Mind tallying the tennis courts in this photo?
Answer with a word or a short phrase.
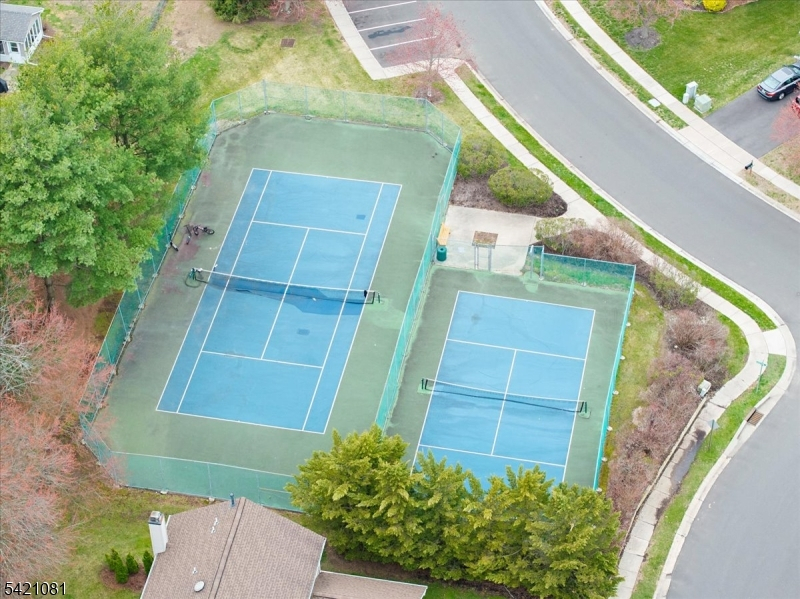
2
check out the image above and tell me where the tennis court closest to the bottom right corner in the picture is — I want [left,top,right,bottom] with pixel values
[380,265,632,543]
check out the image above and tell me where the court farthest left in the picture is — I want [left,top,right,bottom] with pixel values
[81,112,455,512]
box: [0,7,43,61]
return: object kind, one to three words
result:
house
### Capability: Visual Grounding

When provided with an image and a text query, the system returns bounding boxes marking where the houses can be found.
[138,496,427,599]
[0,7,43,61]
